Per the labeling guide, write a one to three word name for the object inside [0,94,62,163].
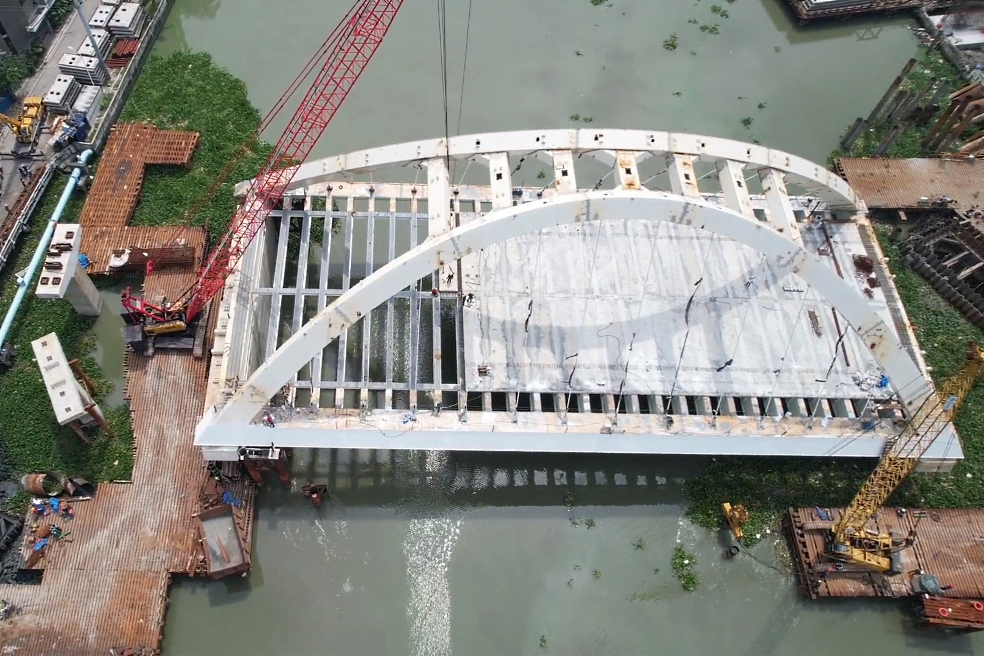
truck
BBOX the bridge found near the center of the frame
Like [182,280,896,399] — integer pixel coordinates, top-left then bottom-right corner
[193,131,965,459]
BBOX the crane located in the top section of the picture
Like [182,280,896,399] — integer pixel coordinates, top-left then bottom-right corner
[109,0,470,361]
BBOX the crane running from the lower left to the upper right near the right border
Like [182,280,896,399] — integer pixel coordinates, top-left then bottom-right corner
[795,330,984,579]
